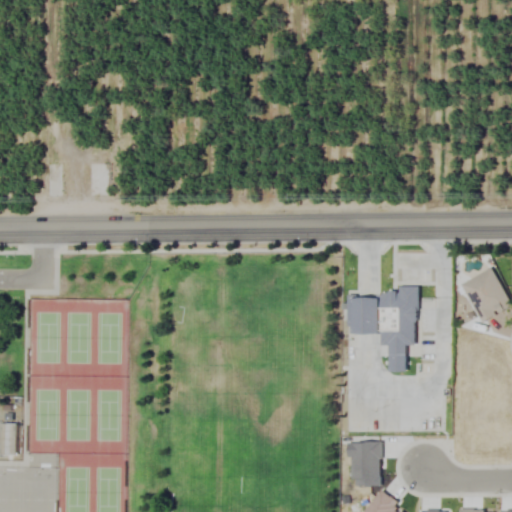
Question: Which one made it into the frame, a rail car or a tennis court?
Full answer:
It is a tennis court that can be seen here.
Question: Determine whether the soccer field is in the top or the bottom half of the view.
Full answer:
It is in the bottom half that the soccer field appears.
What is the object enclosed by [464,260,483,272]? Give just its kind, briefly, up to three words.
swimming pool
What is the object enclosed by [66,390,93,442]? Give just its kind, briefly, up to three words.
tennis court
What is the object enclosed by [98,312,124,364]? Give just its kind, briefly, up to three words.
tennis court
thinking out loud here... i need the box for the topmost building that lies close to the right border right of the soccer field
[464,268,512,318]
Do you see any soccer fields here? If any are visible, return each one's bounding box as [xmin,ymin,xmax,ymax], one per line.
[130,253,342,512]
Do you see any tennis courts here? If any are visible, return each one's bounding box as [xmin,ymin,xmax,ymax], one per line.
[66,467,90,512]
[67,312,92,364]
[98,312,124,364]
[95,390,122,442]
[36,312,62,364]
[94,468,122,512]
[66,390,93,442]
[34,390,60,441]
